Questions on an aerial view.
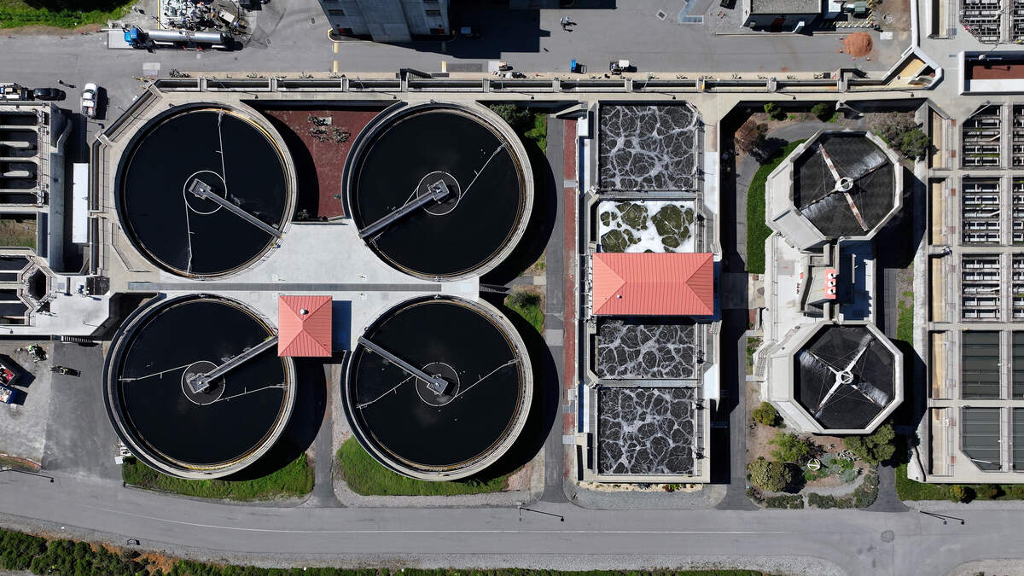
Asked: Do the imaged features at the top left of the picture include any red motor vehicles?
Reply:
No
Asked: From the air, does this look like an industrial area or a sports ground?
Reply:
industrial area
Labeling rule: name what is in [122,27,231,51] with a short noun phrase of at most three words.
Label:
truck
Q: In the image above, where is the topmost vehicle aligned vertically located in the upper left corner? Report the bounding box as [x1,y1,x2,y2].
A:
[80,83,98,118]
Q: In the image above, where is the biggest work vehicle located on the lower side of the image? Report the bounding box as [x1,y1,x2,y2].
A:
[25,348,44,365]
